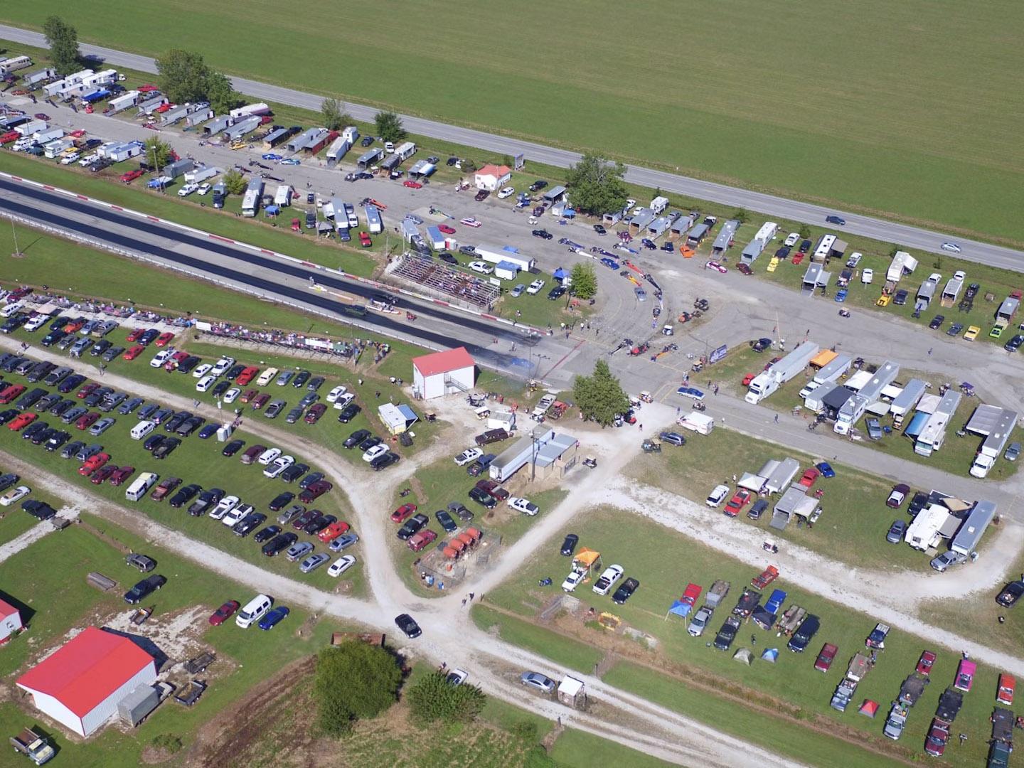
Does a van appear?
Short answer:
Yes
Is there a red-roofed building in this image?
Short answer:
Yes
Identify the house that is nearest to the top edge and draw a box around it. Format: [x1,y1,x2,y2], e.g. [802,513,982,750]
[474,165,515,190]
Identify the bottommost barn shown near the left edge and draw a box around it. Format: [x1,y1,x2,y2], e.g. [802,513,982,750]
[8,619,158,737]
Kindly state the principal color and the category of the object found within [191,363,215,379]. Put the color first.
white car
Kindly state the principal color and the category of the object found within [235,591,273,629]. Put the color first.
white van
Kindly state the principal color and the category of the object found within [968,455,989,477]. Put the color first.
white truck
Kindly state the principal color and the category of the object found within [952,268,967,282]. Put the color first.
white vehicle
